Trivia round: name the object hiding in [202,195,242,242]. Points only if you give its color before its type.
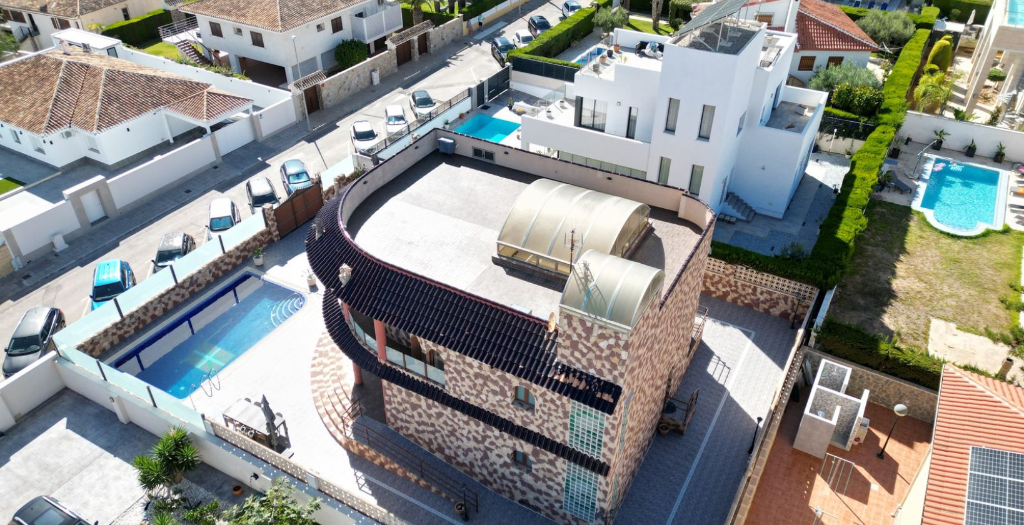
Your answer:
white car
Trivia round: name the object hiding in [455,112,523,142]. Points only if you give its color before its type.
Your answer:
blue swimming pool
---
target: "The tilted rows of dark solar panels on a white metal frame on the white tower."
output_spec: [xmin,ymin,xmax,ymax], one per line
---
[671,0,752,48]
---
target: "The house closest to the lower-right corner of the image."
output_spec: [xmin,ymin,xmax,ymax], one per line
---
[918,357,1024,525]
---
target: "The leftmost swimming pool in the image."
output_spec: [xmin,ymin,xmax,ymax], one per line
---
[99,261,327,407]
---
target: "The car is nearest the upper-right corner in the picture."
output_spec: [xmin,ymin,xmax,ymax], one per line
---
[557,1,582,21]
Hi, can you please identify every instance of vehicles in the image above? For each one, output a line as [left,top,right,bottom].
[202,195,242,242]
[247,178,282,215]
[1,307,67,375]
[510,33,532,51]
[90,251,137,314]
[524,17,551,39]
[412,92,441,125]
[153,233,195,272]
[283,160,317,192]
[385,107,414,141]
[488,43,512,69]
[557,1,582,21]
[353,125,385,154]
